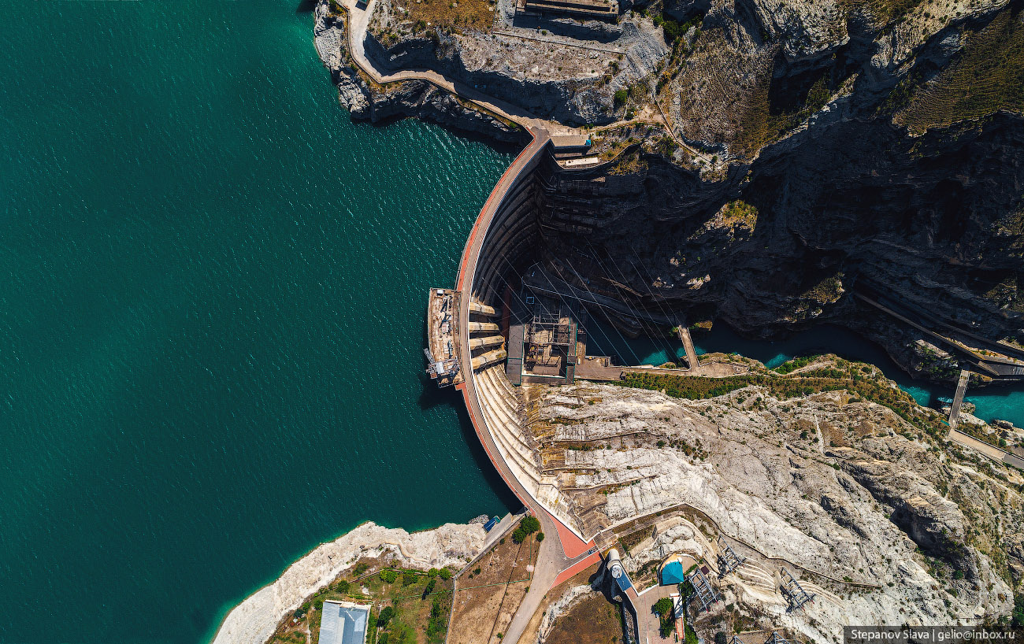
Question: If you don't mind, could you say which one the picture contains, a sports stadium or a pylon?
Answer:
pylon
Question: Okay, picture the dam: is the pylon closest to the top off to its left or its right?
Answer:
on the right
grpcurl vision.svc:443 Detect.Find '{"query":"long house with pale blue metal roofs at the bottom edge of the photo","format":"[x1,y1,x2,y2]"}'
[319,598,373,644]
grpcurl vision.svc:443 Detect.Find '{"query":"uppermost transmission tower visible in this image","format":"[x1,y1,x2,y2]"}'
[708,530,745,575]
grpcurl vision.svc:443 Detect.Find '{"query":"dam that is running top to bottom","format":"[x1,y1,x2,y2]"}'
[453,134,587,545]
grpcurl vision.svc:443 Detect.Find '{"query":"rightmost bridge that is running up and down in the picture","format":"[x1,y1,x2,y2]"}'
[942,369,969,430]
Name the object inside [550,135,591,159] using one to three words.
building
